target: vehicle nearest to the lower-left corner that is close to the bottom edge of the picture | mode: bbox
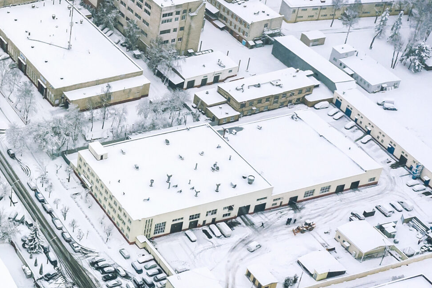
[19,263,32,279]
